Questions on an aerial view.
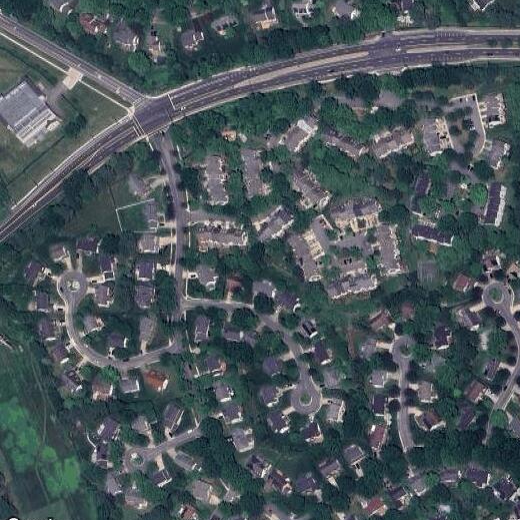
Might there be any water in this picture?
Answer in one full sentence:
No, no water is visible.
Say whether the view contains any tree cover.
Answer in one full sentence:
Yes, tree cover shows up in the scene.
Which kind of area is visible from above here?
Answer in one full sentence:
This image shows a residential area.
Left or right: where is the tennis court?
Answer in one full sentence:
You can find the tennis court on the right side of the picture.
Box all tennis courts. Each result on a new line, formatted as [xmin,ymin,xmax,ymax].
[418,260,439,285]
